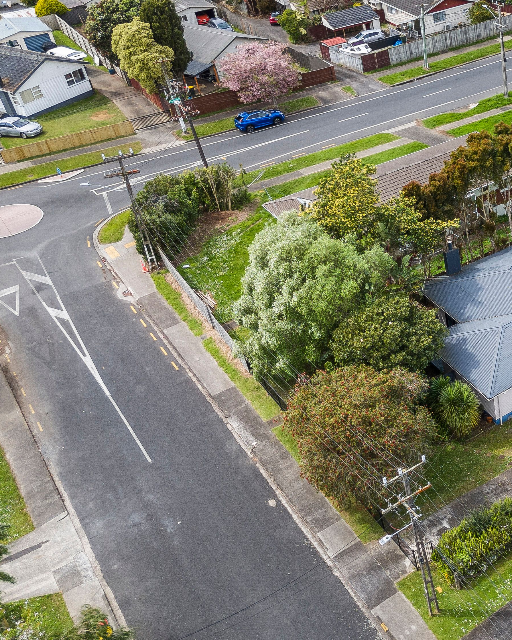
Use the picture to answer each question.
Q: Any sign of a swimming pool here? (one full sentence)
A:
No, I can't see a single swimming pool in this photo.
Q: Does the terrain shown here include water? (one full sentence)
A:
No, water can't be seen anywhere here.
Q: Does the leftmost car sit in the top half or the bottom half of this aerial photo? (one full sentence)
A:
The top half of the photo is where the leftmost car is.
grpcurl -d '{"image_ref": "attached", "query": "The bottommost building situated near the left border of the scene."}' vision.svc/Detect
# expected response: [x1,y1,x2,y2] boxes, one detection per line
[0,38,94,116]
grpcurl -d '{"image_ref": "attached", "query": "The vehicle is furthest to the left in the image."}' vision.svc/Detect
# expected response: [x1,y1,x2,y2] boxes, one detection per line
[0,119,39,140]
